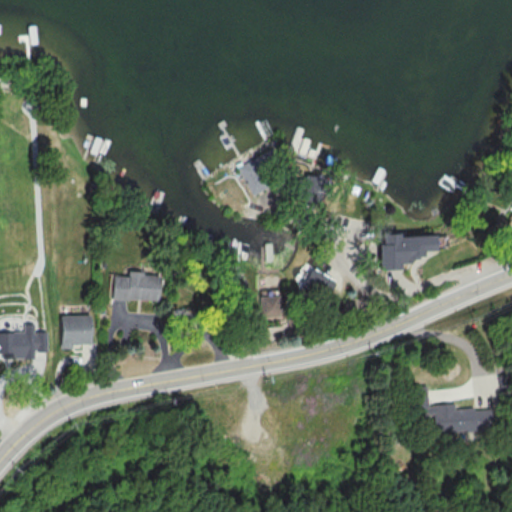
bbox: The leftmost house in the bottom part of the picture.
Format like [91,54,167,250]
[0,320,48,360]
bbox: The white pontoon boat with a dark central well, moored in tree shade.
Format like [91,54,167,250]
[440,176,456,192]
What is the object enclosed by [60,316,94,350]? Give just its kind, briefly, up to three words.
house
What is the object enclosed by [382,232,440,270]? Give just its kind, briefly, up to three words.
house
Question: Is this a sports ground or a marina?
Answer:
marina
